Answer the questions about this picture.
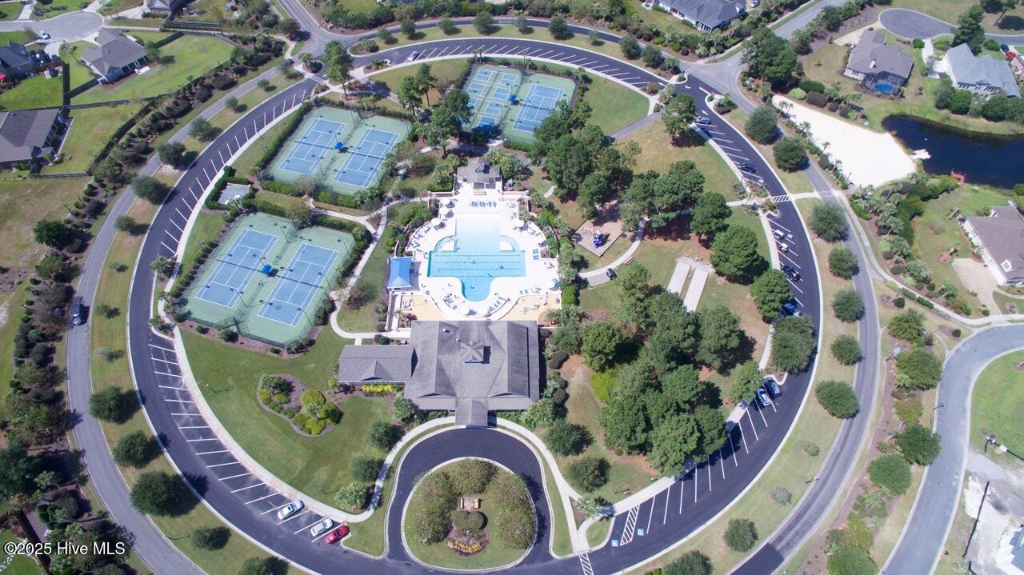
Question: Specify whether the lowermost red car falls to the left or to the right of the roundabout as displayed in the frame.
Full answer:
The lowermost red car can be seen on the left of the roundabout.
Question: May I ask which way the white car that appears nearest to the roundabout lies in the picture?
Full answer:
In this picture, the white car that appears nearest to the roundabout lies at an angle.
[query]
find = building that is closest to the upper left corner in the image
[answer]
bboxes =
[0,43,43,87]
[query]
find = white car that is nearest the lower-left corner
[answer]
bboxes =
[277,499,301,519]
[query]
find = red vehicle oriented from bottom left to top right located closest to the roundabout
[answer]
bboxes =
[323,524,348,544]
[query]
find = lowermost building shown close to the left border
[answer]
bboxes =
[0,109,61,170]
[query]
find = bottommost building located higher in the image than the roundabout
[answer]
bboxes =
[337,318,540,431]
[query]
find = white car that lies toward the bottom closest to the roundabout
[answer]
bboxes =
[308,516,333,537]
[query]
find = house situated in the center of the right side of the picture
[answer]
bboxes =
[964,205,1024,286]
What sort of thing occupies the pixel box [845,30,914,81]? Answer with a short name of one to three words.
house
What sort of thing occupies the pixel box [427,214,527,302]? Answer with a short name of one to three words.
swimming pool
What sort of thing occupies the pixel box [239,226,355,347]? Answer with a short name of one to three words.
tennis court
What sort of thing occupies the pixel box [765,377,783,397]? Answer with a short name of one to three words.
car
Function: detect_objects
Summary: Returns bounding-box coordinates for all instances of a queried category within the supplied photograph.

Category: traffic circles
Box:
[383,427,555,575]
